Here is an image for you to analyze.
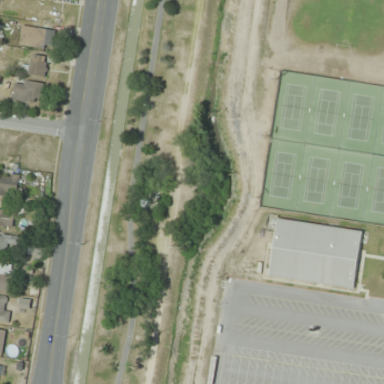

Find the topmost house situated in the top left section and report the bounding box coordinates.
[19,24,55,48]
